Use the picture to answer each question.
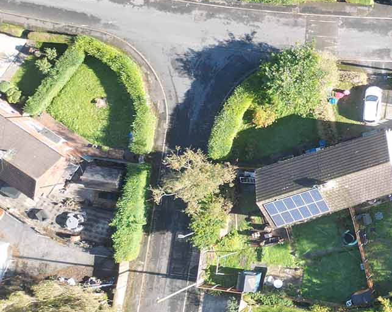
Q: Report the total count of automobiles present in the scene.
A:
1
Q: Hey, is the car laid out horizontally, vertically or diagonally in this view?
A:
vertically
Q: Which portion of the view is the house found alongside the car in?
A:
right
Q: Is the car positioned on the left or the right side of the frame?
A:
right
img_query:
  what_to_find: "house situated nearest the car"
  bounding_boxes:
[255,129,392,230]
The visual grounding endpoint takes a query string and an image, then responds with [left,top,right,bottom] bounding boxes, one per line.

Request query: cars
[363,85,384,125]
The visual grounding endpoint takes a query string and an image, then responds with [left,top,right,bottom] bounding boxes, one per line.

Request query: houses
[255,129,392,230]
[0,104,91,201]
